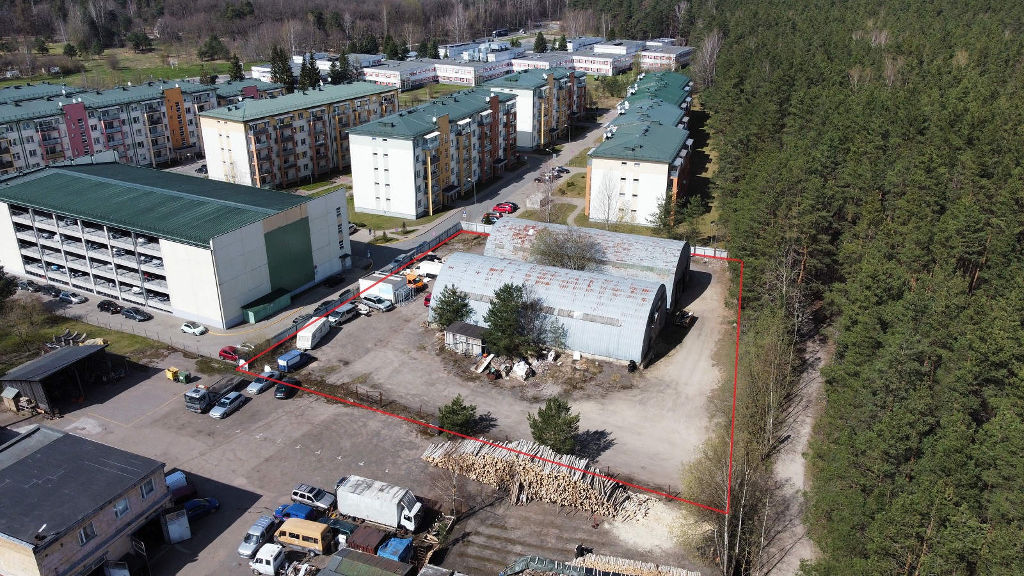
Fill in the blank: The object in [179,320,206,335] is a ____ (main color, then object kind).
white car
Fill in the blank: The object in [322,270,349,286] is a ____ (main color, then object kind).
black car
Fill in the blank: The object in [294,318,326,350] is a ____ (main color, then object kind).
white camper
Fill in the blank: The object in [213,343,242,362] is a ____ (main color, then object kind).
red car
